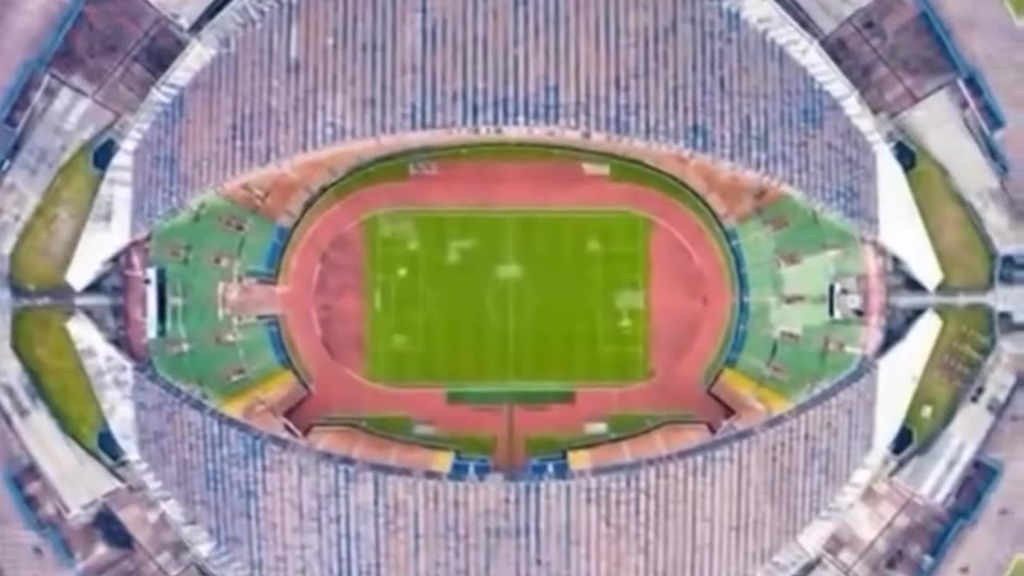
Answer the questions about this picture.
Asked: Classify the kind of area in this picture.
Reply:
sports ground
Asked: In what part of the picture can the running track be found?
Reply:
center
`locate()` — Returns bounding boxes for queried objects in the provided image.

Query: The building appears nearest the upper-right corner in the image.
[891,141,918,168]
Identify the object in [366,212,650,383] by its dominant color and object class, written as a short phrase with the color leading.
green soccer field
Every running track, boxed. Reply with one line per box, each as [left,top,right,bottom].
[280,147,735,478]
